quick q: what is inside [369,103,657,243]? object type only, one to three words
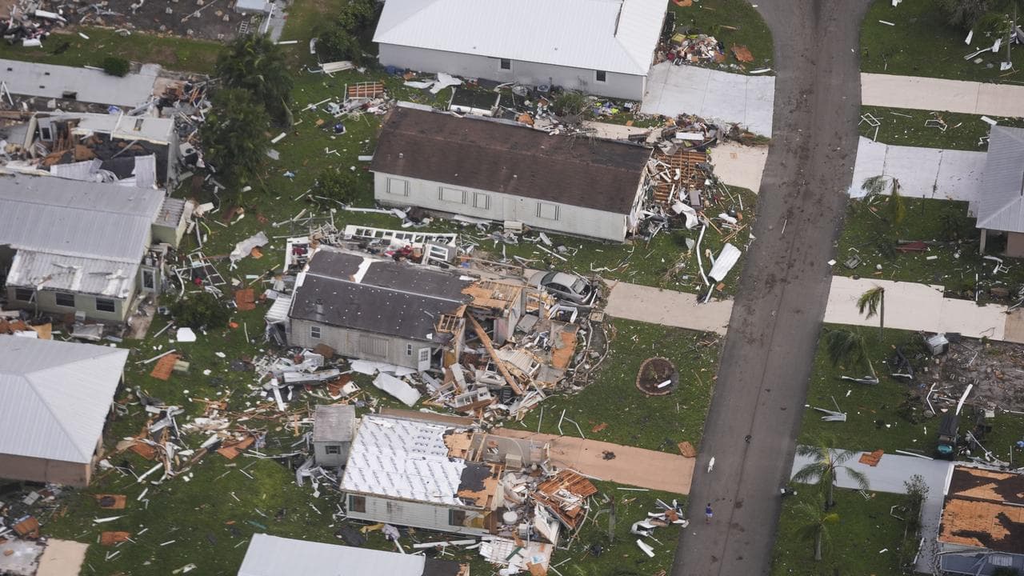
house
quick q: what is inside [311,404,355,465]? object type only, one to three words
shed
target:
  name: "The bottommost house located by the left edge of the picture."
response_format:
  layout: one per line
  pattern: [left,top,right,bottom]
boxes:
[0,337,129,491]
